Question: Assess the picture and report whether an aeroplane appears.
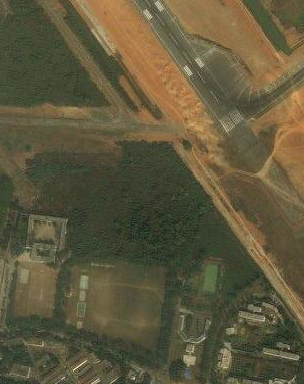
No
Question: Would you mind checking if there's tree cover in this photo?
Yes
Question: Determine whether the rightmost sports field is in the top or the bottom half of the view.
bottom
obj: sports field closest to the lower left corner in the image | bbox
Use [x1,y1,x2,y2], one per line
[13,264,58,317]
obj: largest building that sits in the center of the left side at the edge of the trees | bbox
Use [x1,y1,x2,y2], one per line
[27,214,68,249]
